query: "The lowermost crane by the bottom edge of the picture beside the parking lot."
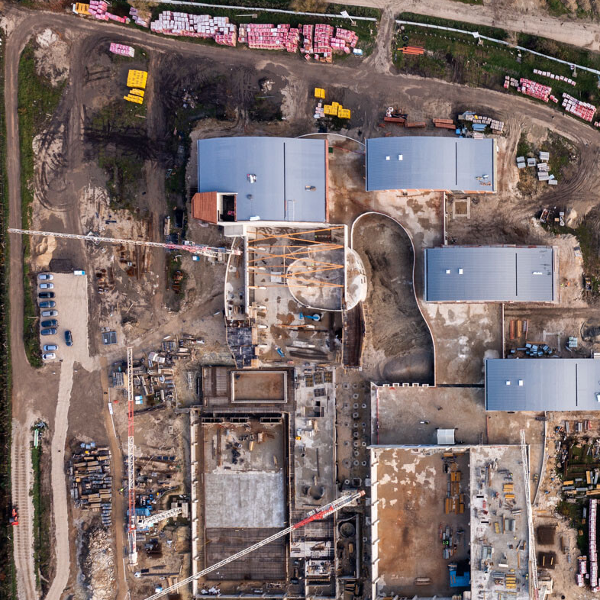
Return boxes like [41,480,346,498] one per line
[143,488,369,600]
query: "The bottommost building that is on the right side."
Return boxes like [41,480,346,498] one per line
[366,444,532,600]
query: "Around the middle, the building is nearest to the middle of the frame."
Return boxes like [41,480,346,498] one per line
[218,223,352,317]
